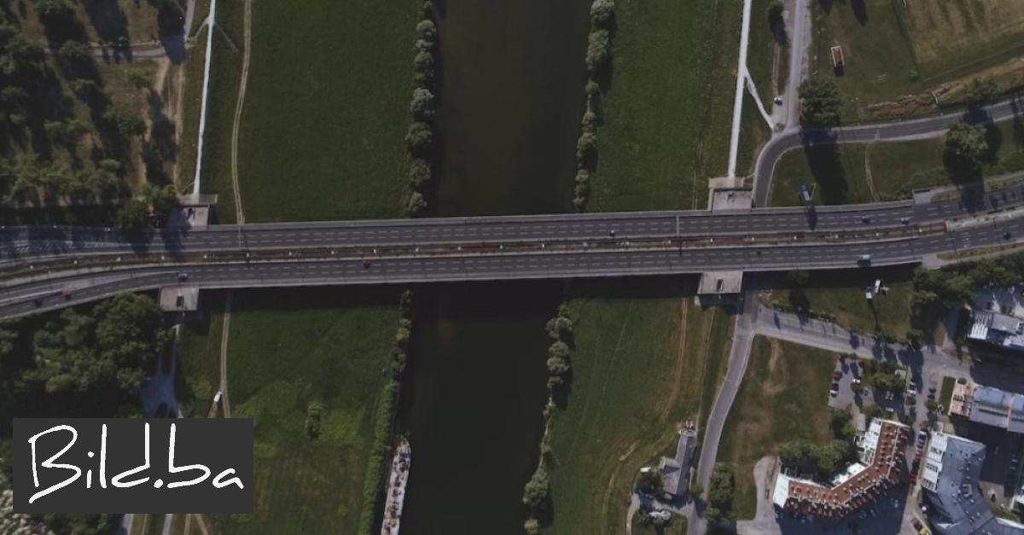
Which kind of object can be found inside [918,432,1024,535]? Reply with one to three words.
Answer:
building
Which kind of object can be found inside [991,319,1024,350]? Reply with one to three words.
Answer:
house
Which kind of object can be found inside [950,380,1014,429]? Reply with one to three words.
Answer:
house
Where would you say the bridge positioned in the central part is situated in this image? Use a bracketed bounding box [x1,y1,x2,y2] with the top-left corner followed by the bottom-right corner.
[108,200,916,296]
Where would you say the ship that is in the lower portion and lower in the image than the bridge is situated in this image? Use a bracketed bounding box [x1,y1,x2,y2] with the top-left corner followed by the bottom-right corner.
[378,438,410,535]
